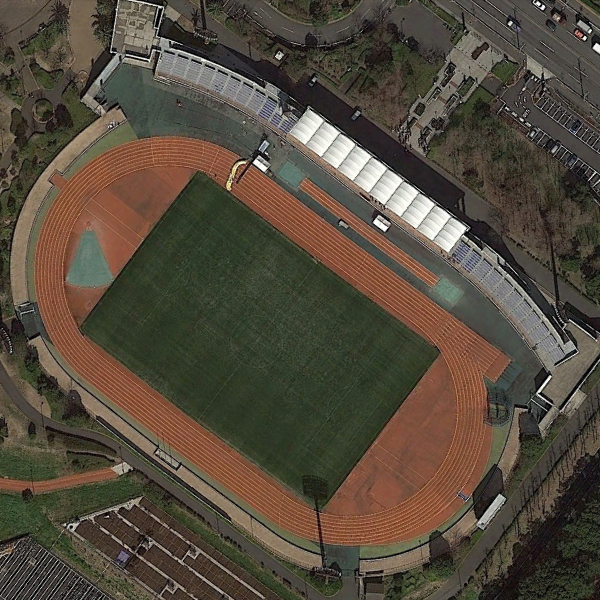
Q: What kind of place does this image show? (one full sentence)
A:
The area seen from above is a sports ground.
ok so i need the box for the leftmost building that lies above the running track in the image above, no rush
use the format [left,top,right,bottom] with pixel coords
[111,0,166,72]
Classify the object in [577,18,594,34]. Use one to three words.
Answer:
vehicle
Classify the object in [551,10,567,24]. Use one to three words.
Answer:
vehicle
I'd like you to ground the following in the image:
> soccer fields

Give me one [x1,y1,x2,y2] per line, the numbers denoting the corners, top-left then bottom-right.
[82,172,440,505]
